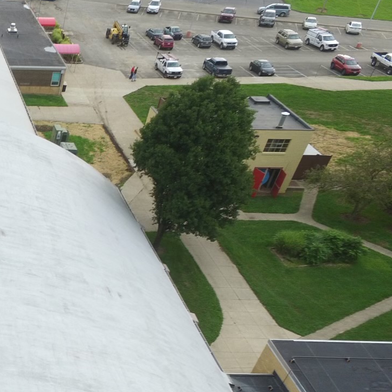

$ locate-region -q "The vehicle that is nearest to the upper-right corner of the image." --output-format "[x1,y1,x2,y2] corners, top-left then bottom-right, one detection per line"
[344,20,363,34]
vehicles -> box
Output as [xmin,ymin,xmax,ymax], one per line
[302,15,320,29]
[247,59,279,77]
[200,55,235,77]
[219,8,236,23]
[256,1,292,17]
[154,49,185,78]
[273,28,306,50]
[146,0,162,14]
[161,24,192,40]
[303,26,342,52]
[192,34,215,48]
[154,35,175,49]
[104,20,135,49]
[127,0,142,14]
[144,25,165,41]
[371,52,392,75]
[344,20,363,34]
[329,53,363,75]
[211,31,240,50]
